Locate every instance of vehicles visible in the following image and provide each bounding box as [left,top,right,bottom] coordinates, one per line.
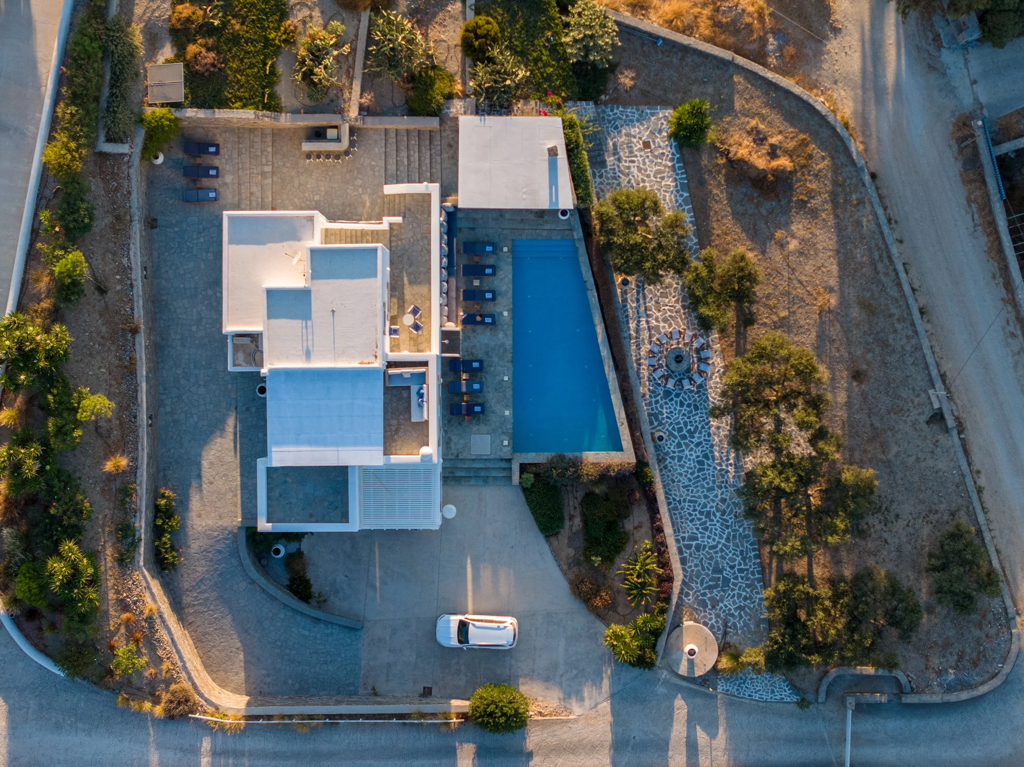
[436,610,518,653]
